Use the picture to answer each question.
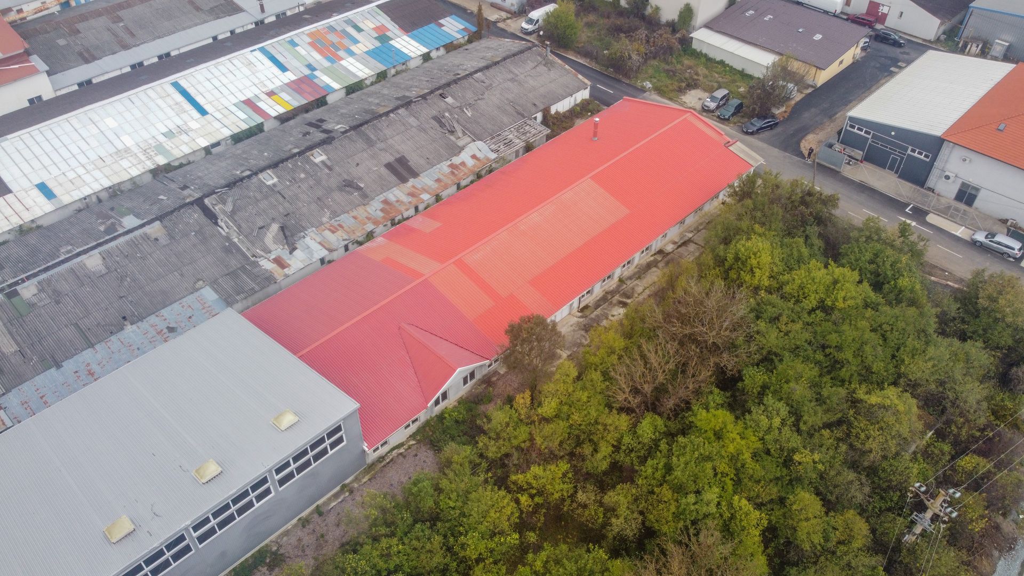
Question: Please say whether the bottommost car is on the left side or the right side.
right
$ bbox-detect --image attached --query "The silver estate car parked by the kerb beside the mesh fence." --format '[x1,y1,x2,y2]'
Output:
[973,230,1024,260]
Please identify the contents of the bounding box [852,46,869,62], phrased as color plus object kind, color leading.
gray car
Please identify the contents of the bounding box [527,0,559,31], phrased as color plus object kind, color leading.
white van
